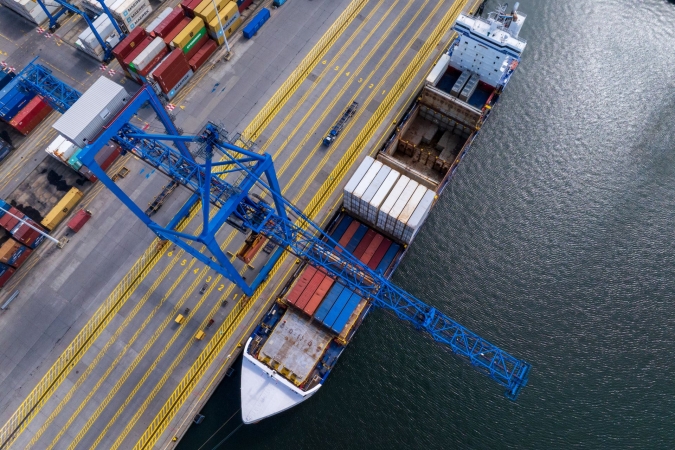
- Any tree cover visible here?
No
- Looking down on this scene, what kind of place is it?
port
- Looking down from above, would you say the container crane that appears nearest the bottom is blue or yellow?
blue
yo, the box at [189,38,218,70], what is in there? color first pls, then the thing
red shipping container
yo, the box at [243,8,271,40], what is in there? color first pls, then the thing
blue shipping container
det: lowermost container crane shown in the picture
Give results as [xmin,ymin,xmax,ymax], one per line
[22,61,531,398]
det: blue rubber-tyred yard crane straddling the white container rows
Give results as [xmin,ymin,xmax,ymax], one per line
[33,0,129,63]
